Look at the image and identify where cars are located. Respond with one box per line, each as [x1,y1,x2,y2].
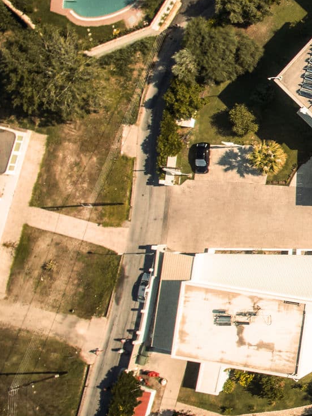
[194,142,212,174]
[136,271,152,302]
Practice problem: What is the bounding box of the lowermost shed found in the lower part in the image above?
[132,384,165,416]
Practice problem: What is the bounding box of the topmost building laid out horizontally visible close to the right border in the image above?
[191,253,312,303]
